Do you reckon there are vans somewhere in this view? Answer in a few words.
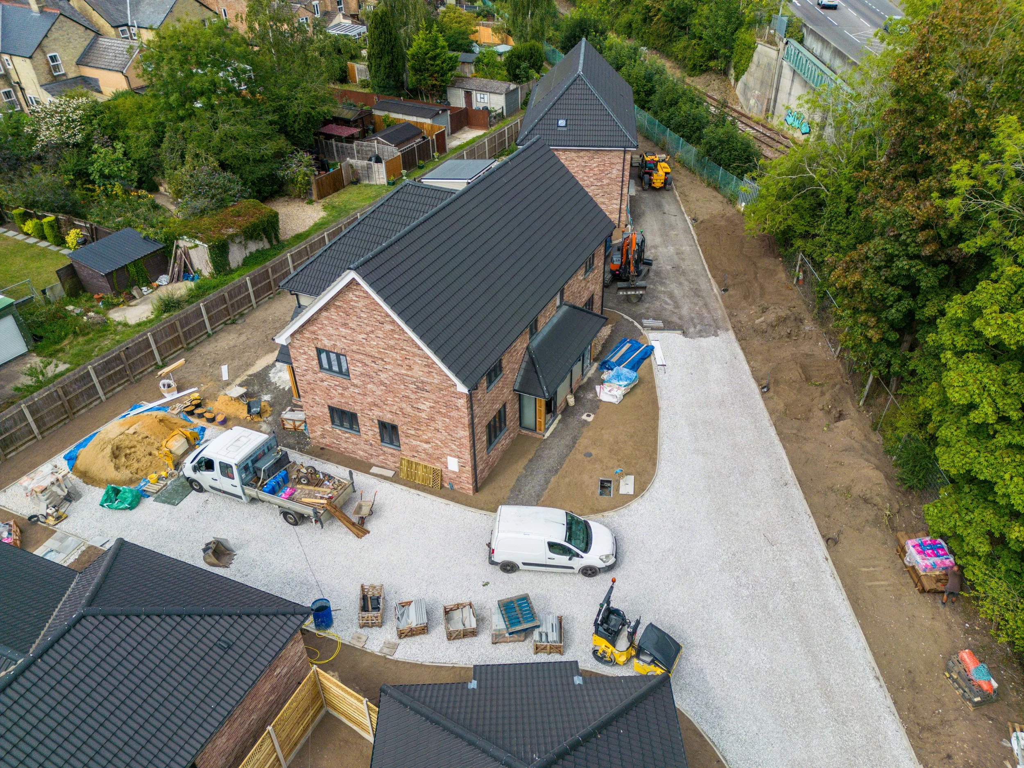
Yes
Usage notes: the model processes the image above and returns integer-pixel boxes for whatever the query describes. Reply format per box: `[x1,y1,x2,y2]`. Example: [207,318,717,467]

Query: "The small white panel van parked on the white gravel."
[483,504,619,580]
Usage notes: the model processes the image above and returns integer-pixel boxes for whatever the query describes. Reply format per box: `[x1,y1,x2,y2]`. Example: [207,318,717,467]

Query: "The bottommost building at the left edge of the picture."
[0,532,313,768]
